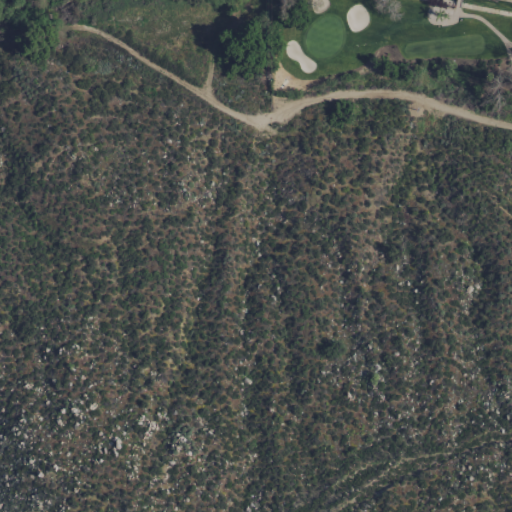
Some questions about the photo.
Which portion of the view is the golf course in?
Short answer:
top right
